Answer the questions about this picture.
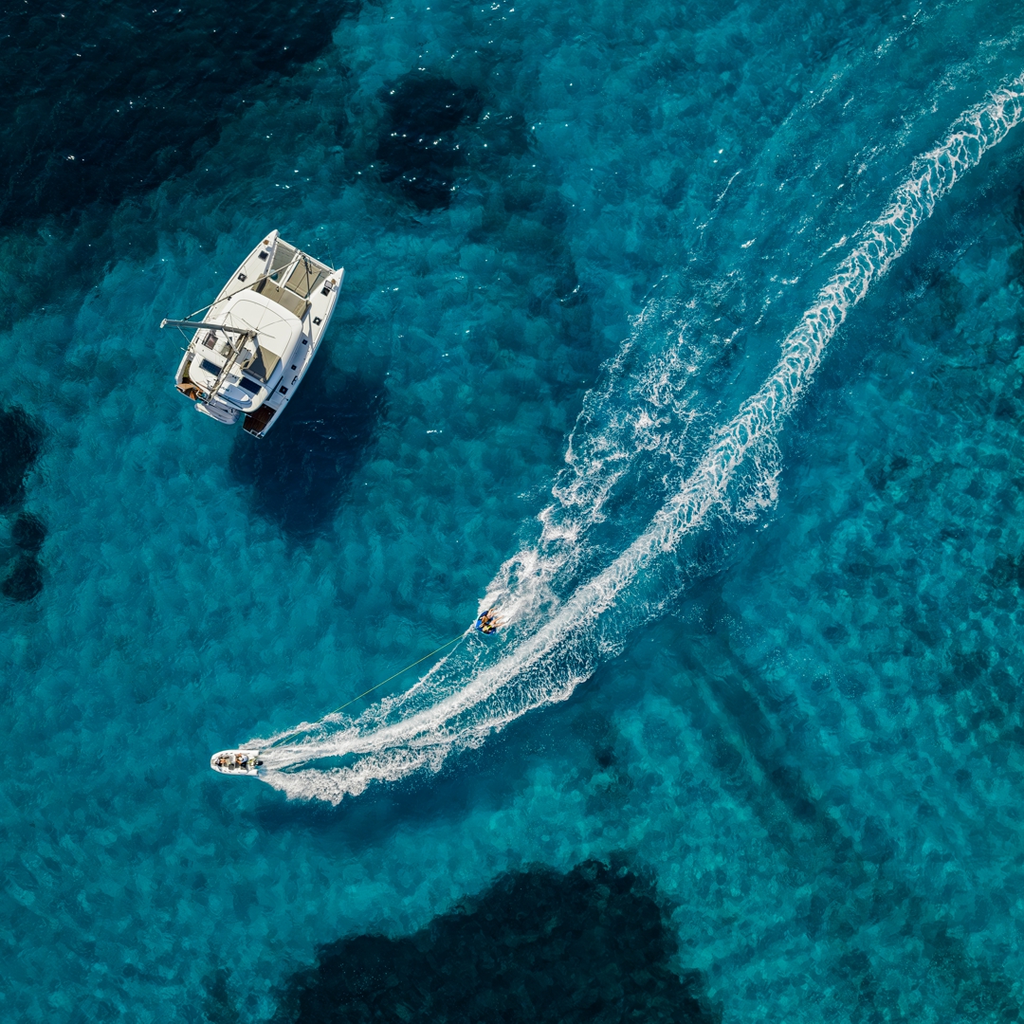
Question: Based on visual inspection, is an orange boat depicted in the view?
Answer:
No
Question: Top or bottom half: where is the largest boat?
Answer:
top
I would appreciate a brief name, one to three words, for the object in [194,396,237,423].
boat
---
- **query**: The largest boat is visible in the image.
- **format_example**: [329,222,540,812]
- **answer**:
[158,227,348,440]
